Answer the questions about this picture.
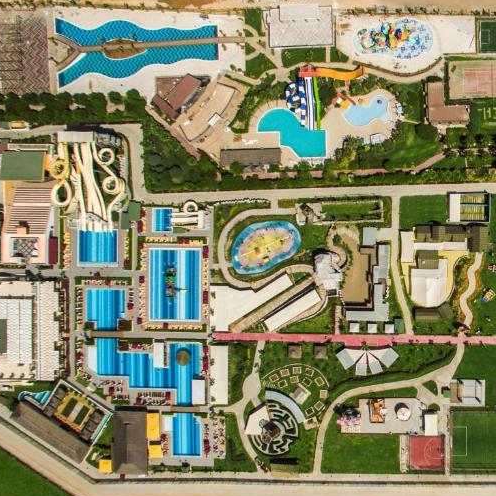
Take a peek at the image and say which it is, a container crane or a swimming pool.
swimming pool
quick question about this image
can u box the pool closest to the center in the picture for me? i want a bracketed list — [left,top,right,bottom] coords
[231,220,302,275]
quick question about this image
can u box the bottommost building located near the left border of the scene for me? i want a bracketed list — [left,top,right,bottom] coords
[10,400,93,464]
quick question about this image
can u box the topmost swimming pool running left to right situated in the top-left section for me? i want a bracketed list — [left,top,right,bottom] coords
[53,15,218,47]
